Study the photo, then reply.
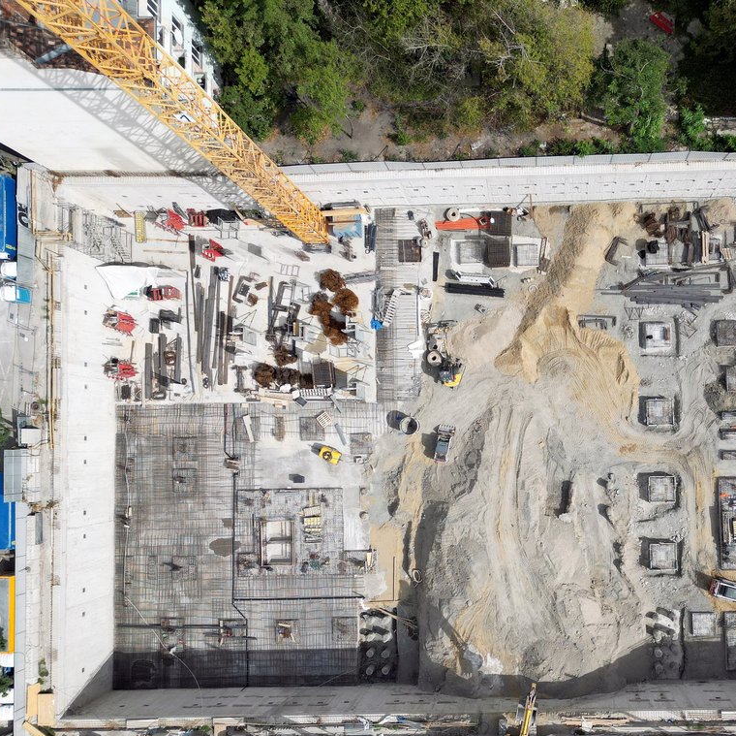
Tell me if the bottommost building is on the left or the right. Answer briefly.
left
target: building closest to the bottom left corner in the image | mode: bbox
[3,450,44,501]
